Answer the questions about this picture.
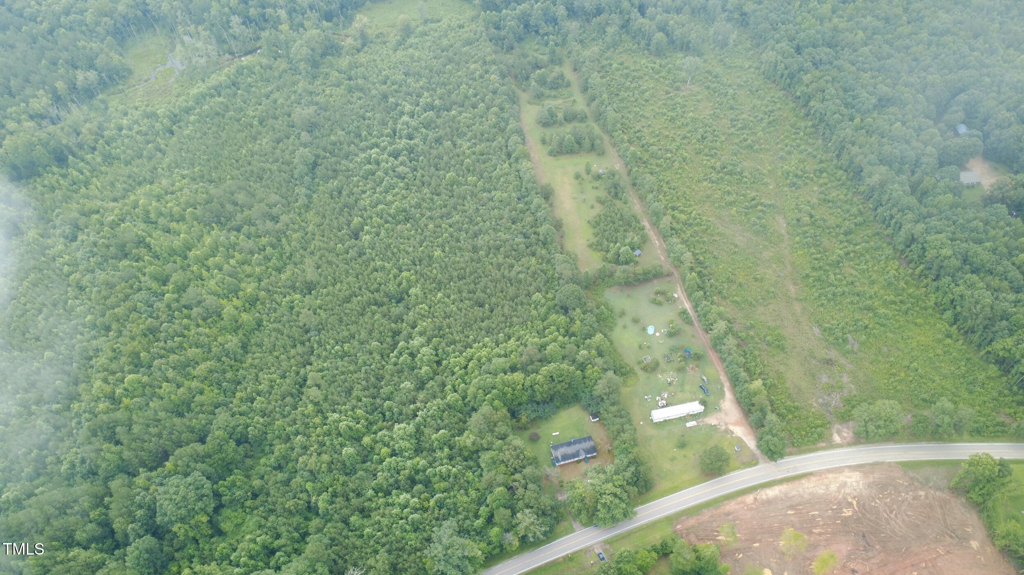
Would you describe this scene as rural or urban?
rural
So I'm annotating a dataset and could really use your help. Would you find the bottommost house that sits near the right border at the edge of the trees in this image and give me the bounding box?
[959,167,985,186]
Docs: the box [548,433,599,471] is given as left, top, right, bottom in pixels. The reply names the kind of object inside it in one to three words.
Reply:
house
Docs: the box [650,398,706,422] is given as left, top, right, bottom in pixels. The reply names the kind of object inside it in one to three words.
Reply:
house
